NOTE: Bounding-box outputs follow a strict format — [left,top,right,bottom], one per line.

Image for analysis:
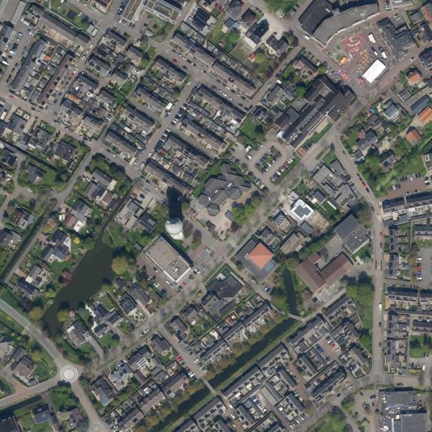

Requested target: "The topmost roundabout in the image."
[54,359,83,388]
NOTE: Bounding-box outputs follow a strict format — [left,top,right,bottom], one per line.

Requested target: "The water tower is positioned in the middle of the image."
[165,219,185,243]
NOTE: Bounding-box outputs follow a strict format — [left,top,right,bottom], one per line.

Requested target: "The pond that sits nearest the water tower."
[45,239,113,329]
